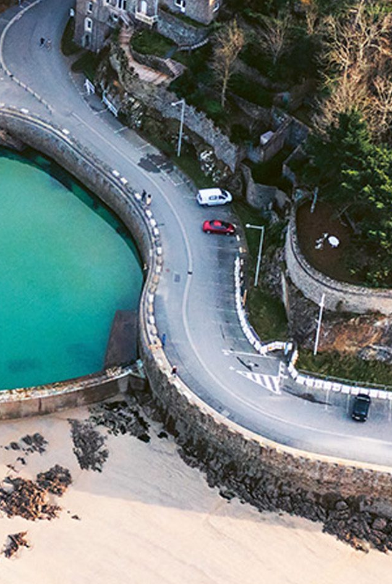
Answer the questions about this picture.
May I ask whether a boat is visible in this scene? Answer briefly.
No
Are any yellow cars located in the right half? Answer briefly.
No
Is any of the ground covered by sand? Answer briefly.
Yes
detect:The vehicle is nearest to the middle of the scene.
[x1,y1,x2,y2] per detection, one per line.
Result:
[203,220,236,236]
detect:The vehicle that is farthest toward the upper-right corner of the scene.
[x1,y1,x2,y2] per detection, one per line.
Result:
[198,188,233,207]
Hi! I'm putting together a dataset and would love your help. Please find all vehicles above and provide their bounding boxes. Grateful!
[198,188,233,207]
[203,220,236,236]
[350,394,372,421]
